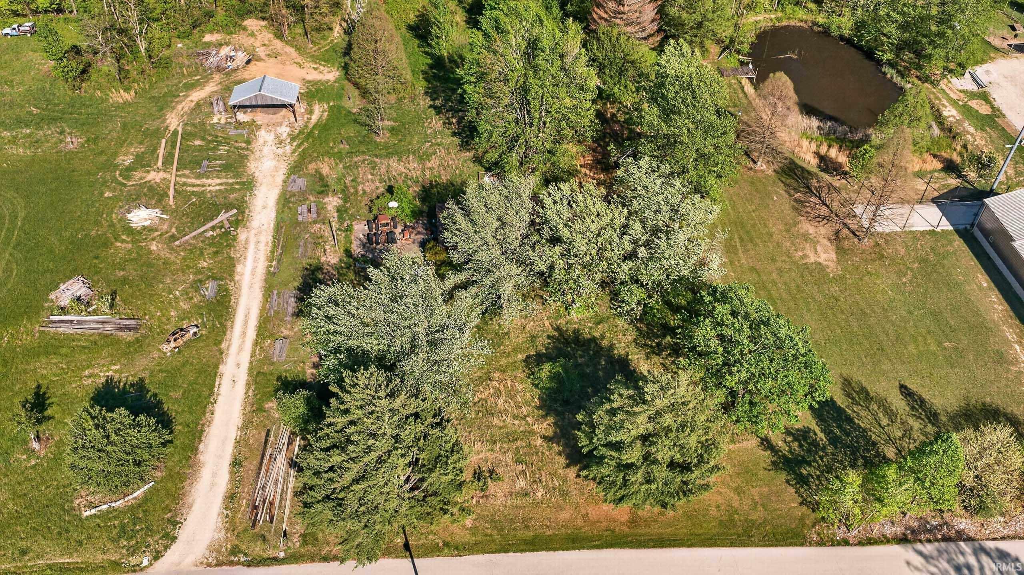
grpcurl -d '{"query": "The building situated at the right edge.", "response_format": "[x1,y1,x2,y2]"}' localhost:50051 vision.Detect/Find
[972,191,1024,300]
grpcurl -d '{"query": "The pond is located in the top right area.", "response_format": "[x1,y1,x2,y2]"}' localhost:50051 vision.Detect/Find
[747,26,904,132]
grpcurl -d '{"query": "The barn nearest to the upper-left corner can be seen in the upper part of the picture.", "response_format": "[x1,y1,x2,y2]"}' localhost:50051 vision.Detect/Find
[227,75,304,123]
